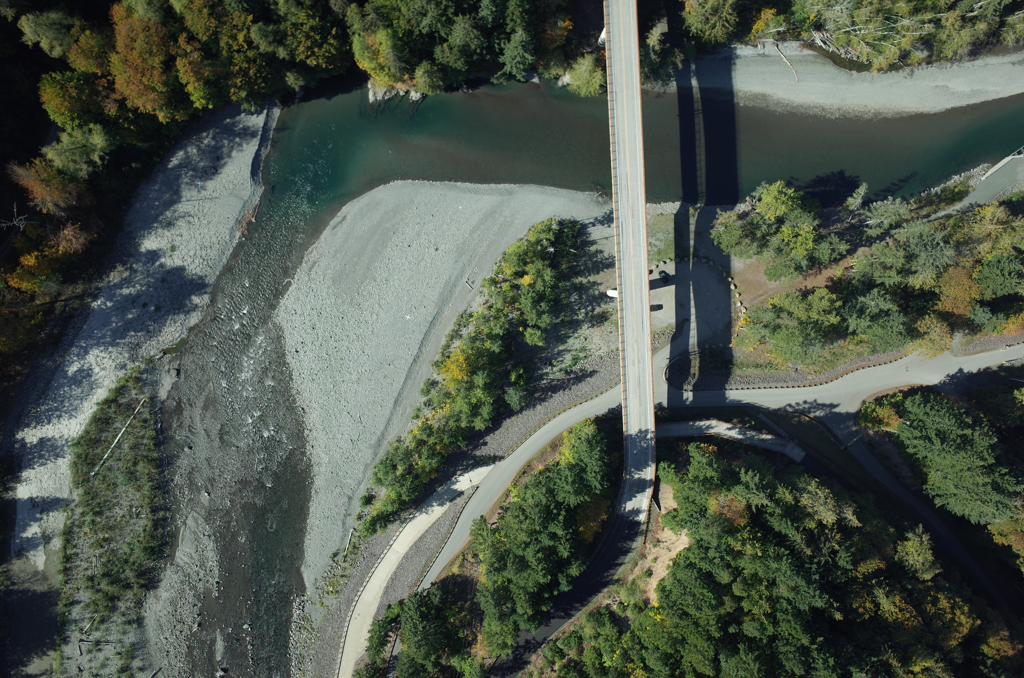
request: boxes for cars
[658,271,669,283]
[650,305,660,311]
